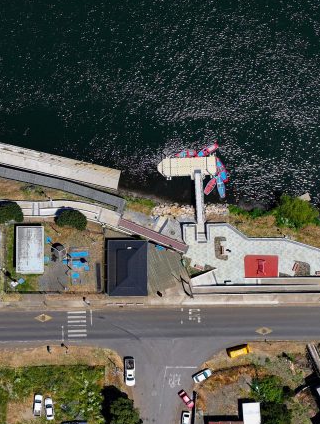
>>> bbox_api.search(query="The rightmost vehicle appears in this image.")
[227,345,252,360]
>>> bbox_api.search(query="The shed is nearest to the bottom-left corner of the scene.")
[16,226,44,273]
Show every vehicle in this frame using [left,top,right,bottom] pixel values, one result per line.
[32,395,42,417]
[192,369,214,384]
[125,358,136,387]
[44,398,54,421]
[182,412,191,424]
[178,389,195,410]
[227,345,252,360]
